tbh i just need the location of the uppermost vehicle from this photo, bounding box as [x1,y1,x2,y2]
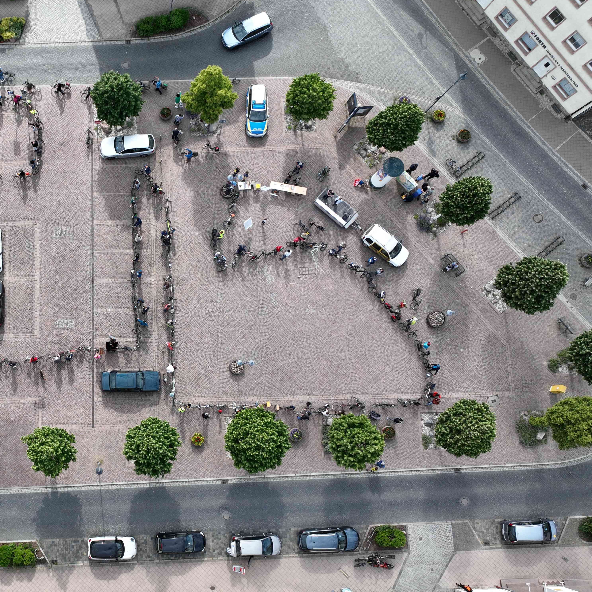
[220,13,277,52]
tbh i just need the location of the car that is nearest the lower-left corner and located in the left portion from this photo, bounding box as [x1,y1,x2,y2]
[88,536,136,561]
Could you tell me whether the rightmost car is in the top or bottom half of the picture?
bottom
